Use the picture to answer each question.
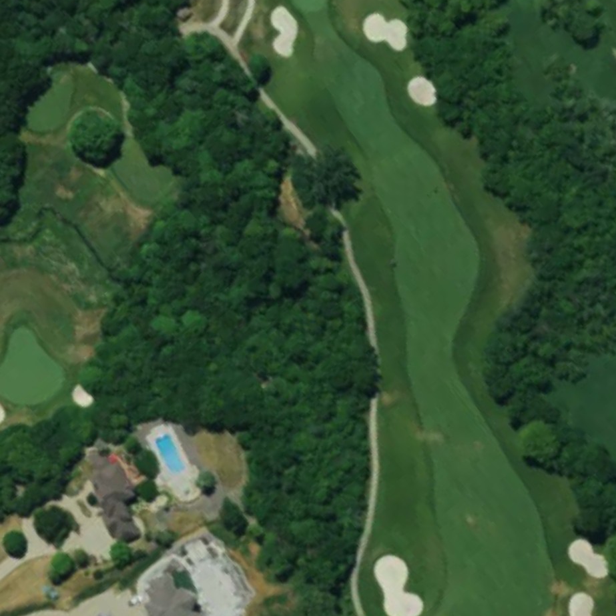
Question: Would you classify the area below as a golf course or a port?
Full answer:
This looks like a golf course.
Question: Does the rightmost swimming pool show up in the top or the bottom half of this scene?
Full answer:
You can find the rightmost swimming pool in the bottom half.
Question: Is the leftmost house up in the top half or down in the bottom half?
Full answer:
It is in the bottom half that the leftmost house appears.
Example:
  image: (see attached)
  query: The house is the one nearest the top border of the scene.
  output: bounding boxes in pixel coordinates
[87,448,144,545]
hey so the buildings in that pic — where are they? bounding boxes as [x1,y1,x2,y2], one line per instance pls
[138,571,205,616]
[87,448,144,545]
